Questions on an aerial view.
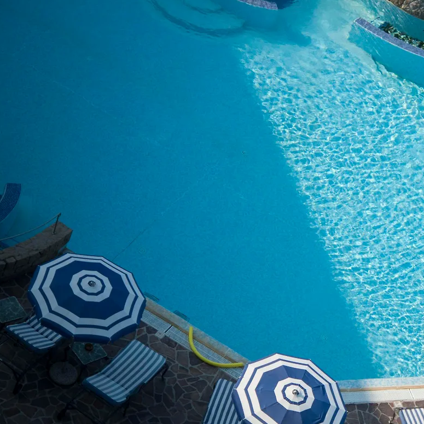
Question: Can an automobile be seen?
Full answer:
No, there appears to be no automobile in this shot.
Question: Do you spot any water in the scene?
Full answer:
Yes, some water is visible.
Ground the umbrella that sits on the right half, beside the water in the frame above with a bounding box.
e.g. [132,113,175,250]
[231,353,348,424]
